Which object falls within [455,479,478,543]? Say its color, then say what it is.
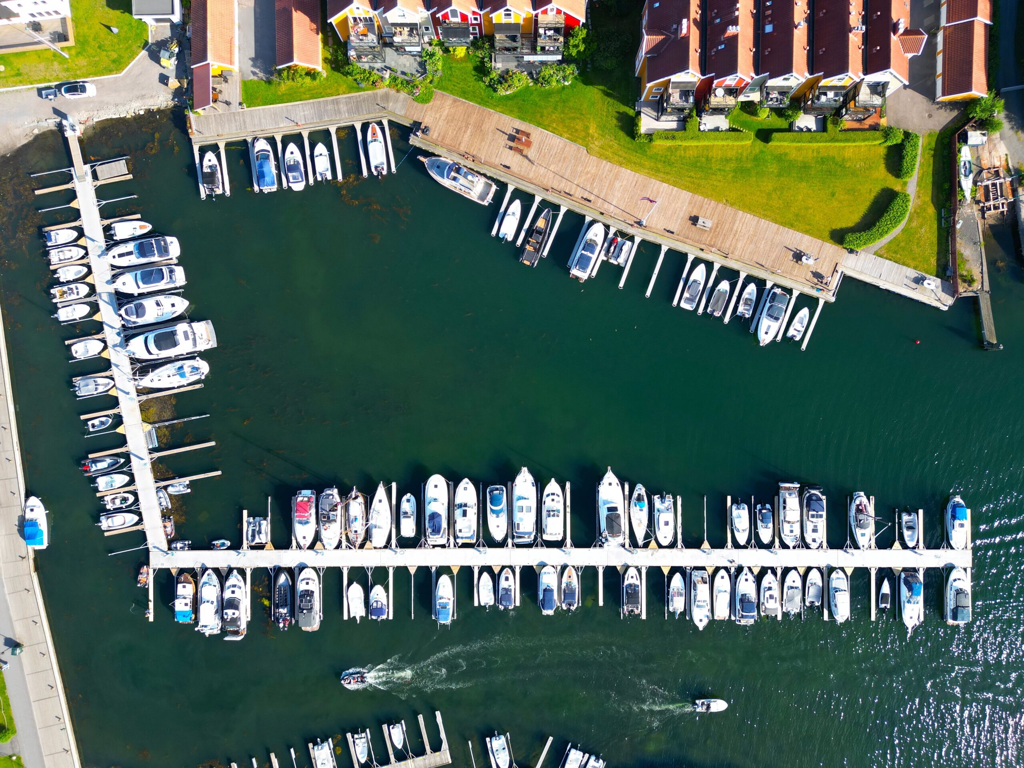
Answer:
white boat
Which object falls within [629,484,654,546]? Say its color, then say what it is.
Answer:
white boat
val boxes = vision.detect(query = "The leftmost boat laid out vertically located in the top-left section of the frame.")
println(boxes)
[199,149,224,199]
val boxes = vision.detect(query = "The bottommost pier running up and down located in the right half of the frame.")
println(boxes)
[974,292,1003,350]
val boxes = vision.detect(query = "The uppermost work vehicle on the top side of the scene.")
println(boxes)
[155,34,183,68]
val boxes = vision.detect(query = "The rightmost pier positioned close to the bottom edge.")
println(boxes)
[358,748,451,768]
